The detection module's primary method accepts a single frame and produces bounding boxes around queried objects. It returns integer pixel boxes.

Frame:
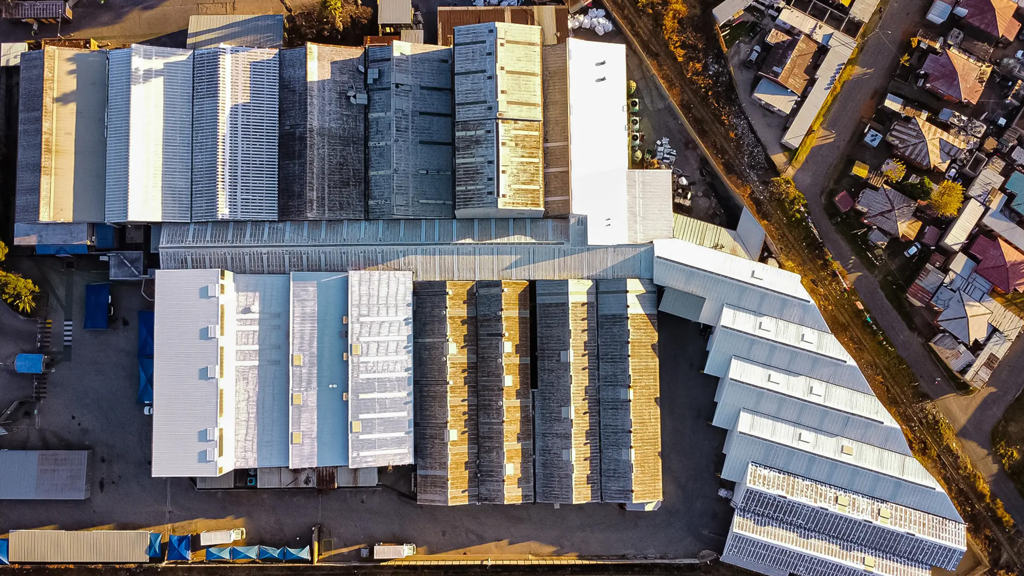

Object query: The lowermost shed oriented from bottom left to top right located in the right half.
[958,336,1012,387]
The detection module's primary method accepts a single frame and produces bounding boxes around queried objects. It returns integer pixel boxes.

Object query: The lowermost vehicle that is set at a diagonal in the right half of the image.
[903,240,924,258]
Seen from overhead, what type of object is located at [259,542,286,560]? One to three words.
tent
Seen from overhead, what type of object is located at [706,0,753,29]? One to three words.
house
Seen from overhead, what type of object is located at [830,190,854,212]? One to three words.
shed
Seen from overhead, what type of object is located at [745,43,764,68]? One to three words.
car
